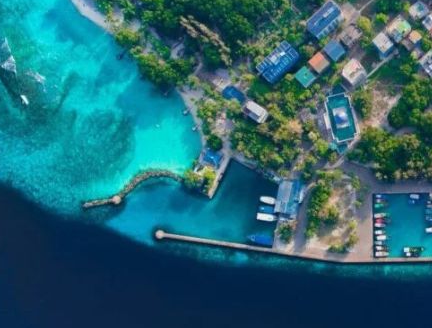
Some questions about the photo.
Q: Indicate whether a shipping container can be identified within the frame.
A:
No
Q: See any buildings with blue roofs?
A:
Yes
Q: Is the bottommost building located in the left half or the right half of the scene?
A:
right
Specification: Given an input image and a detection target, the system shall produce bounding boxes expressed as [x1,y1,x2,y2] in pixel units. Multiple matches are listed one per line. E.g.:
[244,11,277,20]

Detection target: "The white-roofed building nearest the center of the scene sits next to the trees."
[242,99,270,123]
